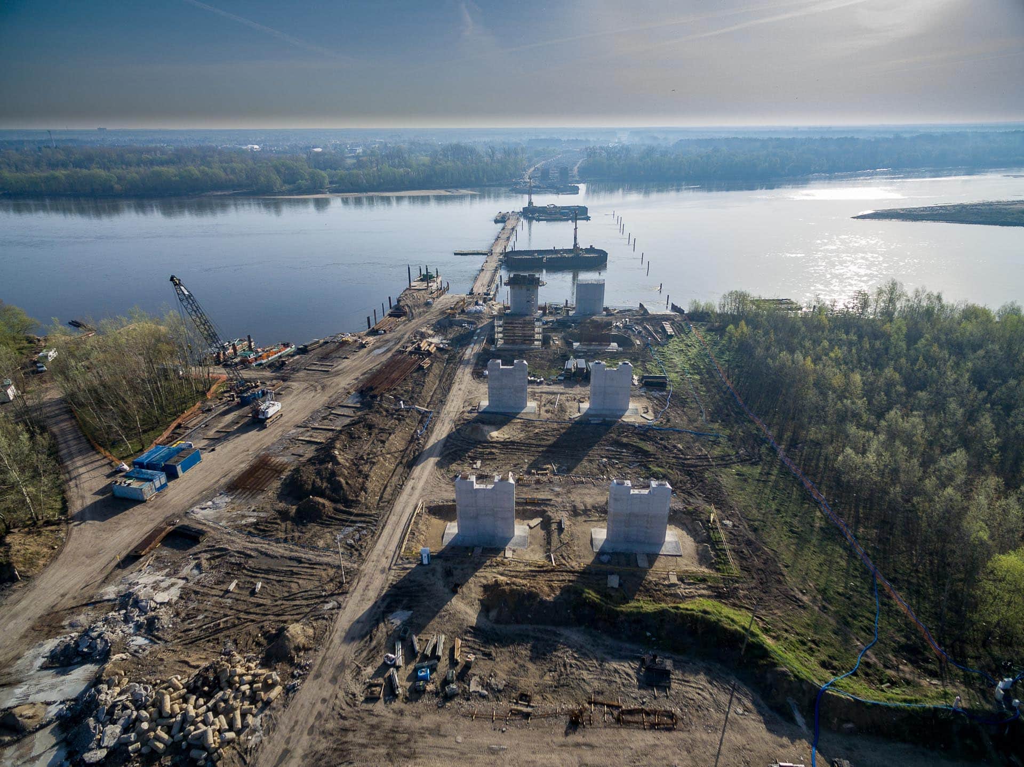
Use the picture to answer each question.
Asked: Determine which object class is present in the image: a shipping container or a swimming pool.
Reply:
shipping container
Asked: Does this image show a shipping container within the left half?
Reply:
Yes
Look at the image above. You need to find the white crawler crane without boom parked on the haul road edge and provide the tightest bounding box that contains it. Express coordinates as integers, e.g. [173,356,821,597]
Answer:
[245,384,287,427]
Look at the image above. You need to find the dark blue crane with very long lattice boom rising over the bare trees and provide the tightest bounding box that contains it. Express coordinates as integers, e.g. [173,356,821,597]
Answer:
[168,273,262,397]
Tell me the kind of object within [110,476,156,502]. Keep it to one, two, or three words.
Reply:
shipping container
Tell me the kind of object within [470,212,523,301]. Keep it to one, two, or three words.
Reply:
bridge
